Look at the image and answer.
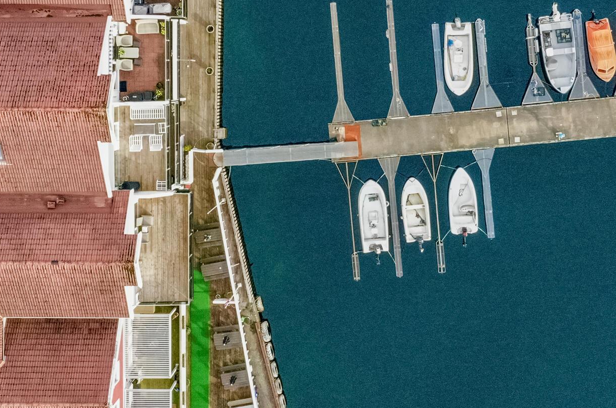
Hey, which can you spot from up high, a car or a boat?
boat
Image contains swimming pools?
No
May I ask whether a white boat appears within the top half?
Yes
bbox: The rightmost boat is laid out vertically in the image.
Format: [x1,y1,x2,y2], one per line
[584,8,616,82]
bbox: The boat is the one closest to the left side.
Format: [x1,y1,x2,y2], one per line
[358,180,392,270]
